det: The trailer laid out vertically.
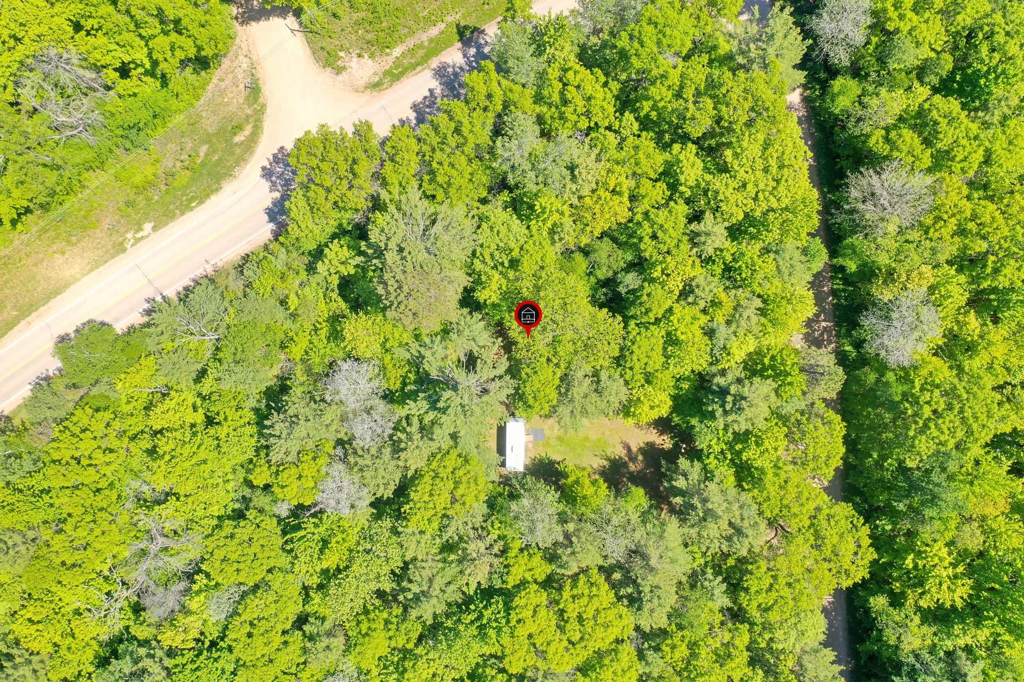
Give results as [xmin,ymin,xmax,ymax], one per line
[506,410,525,471]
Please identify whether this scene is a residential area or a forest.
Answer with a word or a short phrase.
forest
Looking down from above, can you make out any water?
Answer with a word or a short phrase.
No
